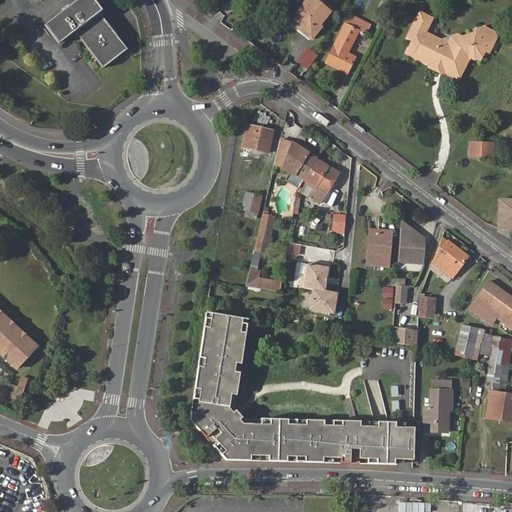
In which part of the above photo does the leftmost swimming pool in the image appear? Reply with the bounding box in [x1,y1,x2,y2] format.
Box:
[270,182,298,217]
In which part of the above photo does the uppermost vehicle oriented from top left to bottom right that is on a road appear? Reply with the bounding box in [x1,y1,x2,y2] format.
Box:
[312,112,330,126]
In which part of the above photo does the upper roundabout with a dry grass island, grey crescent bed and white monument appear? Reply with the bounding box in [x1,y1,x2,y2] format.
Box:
[102,94,222,214]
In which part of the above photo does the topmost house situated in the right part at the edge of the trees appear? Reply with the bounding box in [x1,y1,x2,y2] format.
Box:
[297,0,332,40]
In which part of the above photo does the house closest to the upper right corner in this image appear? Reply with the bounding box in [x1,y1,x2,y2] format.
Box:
[404,11,498,78]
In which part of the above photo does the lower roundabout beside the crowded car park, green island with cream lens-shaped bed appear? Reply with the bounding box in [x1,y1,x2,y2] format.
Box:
[52,416,174,512]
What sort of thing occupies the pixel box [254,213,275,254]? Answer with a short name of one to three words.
barn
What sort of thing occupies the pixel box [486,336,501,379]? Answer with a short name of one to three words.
shed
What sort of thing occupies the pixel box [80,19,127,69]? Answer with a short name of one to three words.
building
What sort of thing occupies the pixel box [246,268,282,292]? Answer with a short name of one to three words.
house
